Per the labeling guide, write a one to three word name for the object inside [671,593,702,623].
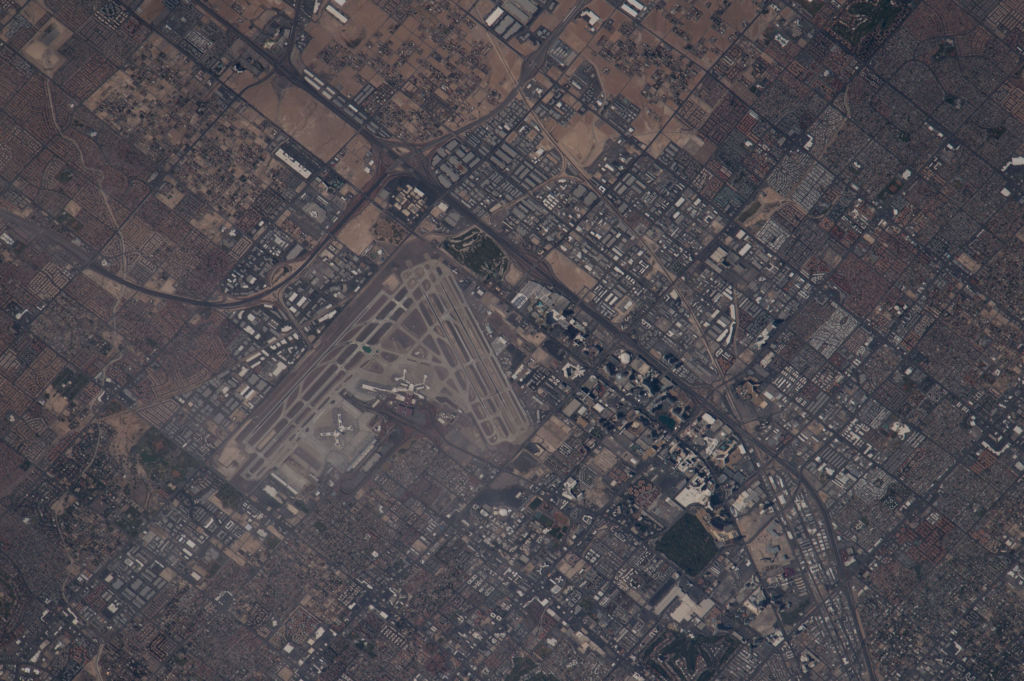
building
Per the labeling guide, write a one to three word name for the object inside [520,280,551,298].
building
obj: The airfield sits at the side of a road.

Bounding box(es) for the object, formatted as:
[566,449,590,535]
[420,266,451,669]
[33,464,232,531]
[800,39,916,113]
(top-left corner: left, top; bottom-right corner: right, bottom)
[206,235,537,496]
